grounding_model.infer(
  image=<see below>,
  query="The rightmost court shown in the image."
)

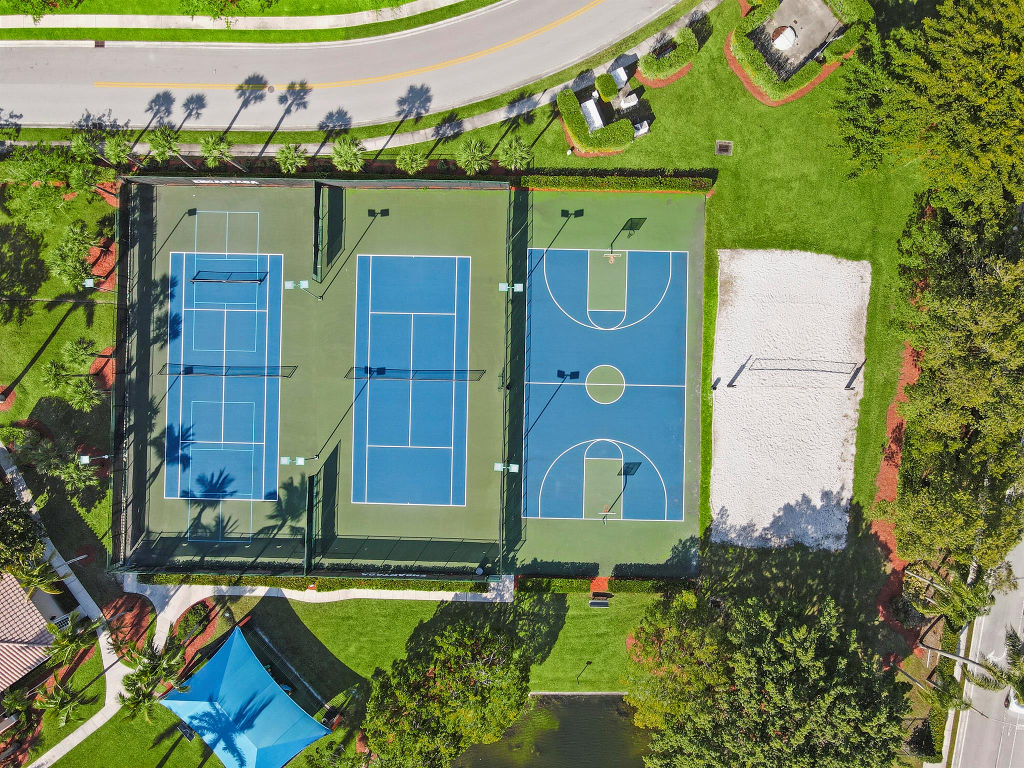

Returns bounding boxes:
[708,248,872,550]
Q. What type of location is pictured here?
sports ground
